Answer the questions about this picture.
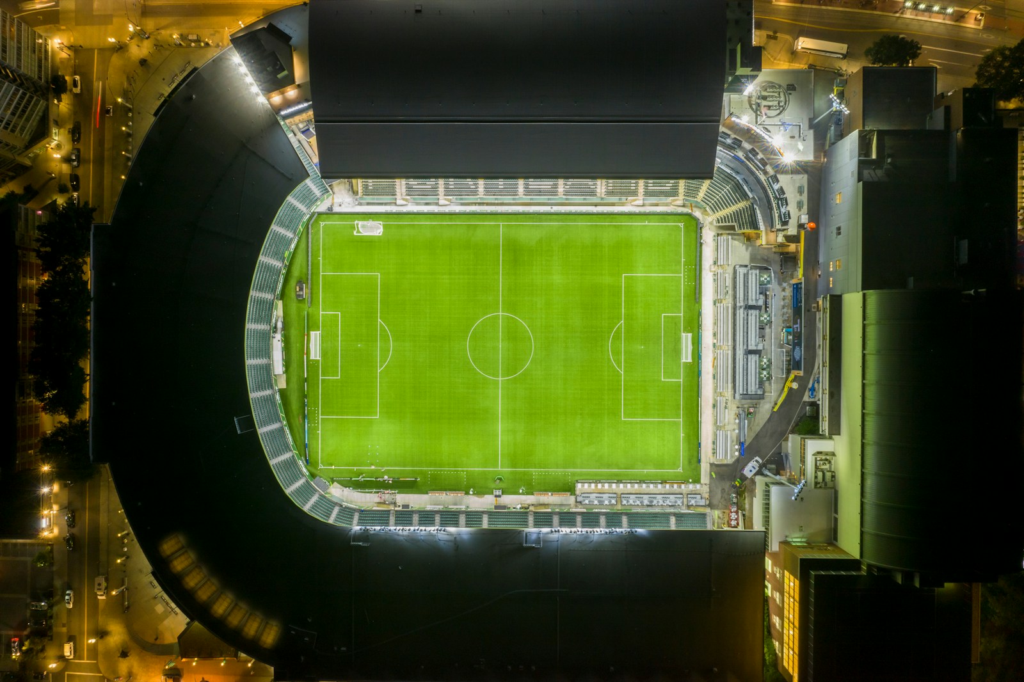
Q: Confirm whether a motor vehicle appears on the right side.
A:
Yes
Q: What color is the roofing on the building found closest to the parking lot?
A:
black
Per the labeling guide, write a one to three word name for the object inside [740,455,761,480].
vehicle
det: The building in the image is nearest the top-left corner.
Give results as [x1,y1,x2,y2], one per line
[0,4,49,89]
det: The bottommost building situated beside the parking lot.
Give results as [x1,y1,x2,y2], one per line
[0,468,53,545]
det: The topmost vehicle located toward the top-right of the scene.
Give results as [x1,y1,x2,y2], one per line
[796,38,850,57]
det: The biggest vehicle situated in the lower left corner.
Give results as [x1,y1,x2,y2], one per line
[92,575,107,600]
